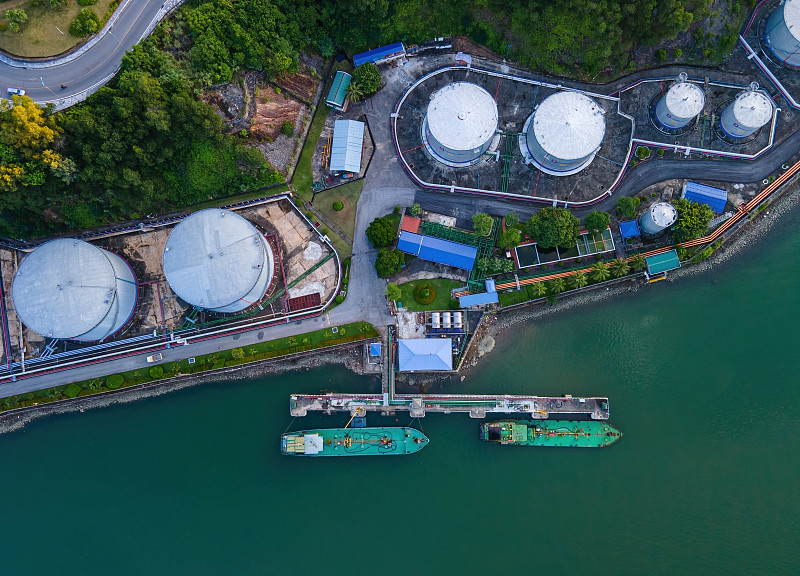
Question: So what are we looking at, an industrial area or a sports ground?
industrial area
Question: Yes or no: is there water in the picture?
Yes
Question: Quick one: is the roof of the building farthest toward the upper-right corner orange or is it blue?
blue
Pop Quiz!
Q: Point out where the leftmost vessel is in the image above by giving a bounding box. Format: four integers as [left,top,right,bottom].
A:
[281,427,430,456]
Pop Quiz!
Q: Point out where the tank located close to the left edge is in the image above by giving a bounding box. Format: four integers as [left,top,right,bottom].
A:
[11,236,144,346]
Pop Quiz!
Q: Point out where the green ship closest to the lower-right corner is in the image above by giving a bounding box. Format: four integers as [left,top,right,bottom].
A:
[480,420,622,447]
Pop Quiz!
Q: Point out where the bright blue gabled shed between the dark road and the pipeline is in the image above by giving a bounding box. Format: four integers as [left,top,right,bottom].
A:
[679,180,727,215]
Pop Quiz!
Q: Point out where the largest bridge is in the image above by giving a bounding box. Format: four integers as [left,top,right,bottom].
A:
[382,323,397,403]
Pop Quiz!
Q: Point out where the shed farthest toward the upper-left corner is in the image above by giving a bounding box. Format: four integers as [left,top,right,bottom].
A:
[327,71,352,109]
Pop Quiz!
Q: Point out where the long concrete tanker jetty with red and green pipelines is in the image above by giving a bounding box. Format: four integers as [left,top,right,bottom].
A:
[290,395,609,420]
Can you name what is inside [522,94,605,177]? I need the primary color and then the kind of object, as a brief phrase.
white storage tank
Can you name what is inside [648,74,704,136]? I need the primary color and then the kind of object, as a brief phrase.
white storage tank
